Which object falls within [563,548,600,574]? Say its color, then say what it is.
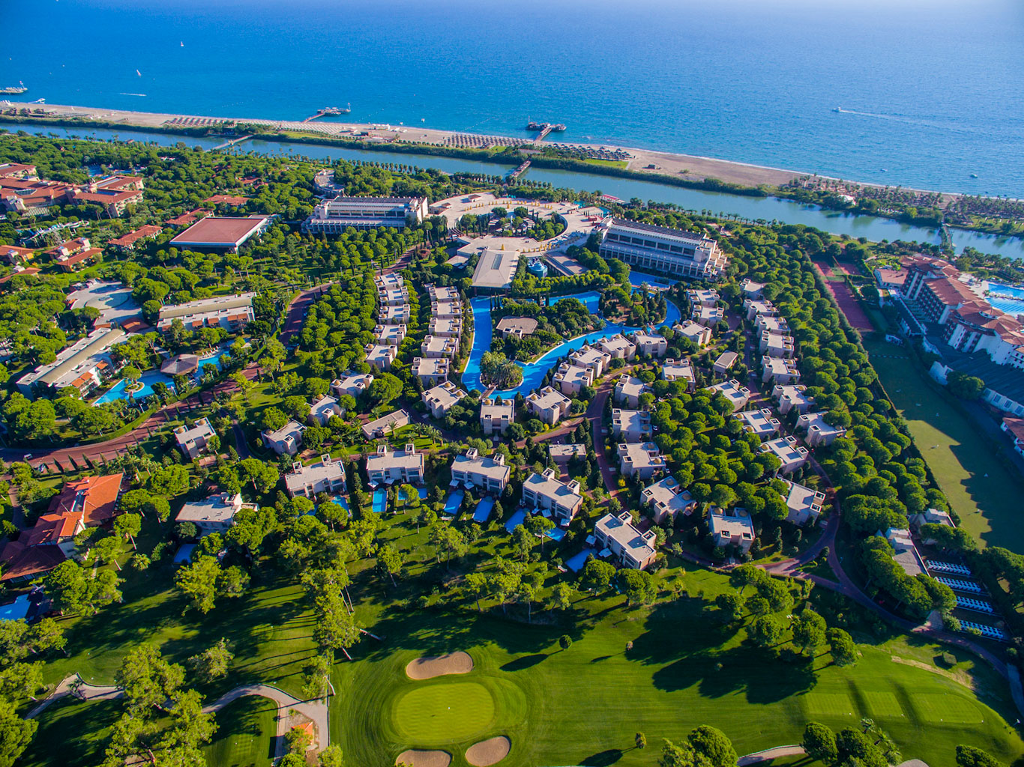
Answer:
blue swimming pool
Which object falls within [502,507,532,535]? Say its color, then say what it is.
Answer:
blue swimming pool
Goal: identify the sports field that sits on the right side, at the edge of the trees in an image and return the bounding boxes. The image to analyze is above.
[862,336,1024,552]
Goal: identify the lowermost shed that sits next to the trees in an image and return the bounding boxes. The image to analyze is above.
[287,711,323,749]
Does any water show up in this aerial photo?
Yes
